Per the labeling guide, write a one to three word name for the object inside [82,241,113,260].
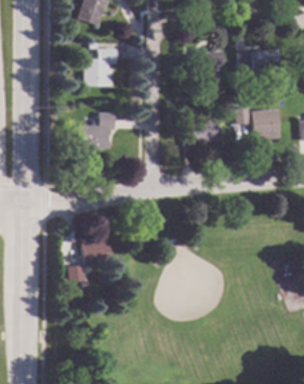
house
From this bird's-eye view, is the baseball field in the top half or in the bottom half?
bottom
